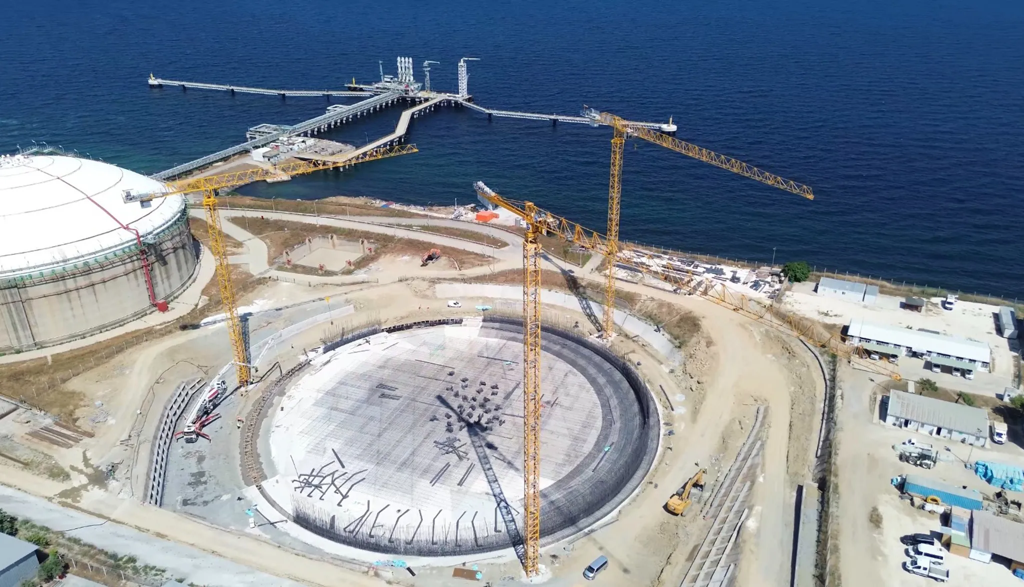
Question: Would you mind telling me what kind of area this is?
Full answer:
This image shows an industrial area.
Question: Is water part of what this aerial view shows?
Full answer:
Yes, some water is visible.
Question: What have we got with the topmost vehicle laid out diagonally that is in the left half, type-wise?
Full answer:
Specifically, the topmost vehicle laid out diagonally that is in the left half is a truck.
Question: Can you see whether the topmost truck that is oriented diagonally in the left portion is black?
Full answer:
No, the topmost truck that is oriented diagonally in the left portion is actually white.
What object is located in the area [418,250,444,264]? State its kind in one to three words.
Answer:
work vehicle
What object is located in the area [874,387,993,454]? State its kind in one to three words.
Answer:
building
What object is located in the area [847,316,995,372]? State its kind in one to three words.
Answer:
building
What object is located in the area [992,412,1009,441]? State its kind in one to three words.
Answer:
vehicle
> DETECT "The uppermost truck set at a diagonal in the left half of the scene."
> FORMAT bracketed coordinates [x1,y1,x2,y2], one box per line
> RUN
[179,341,279,425]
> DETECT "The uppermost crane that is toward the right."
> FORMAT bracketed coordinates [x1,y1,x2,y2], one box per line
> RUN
[586,104,818,344]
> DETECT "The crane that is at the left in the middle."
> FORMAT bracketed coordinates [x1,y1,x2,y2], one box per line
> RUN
[120,140,420,394]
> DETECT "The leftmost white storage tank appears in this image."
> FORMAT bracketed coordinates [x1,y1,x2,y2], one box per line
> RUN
[0,140,198,348]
